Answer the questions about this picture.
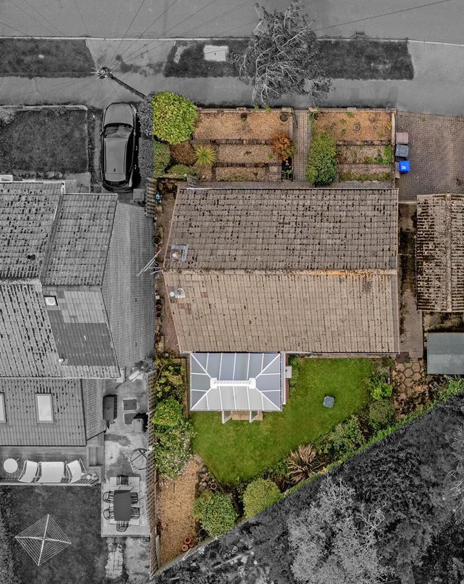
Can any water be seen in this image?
No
